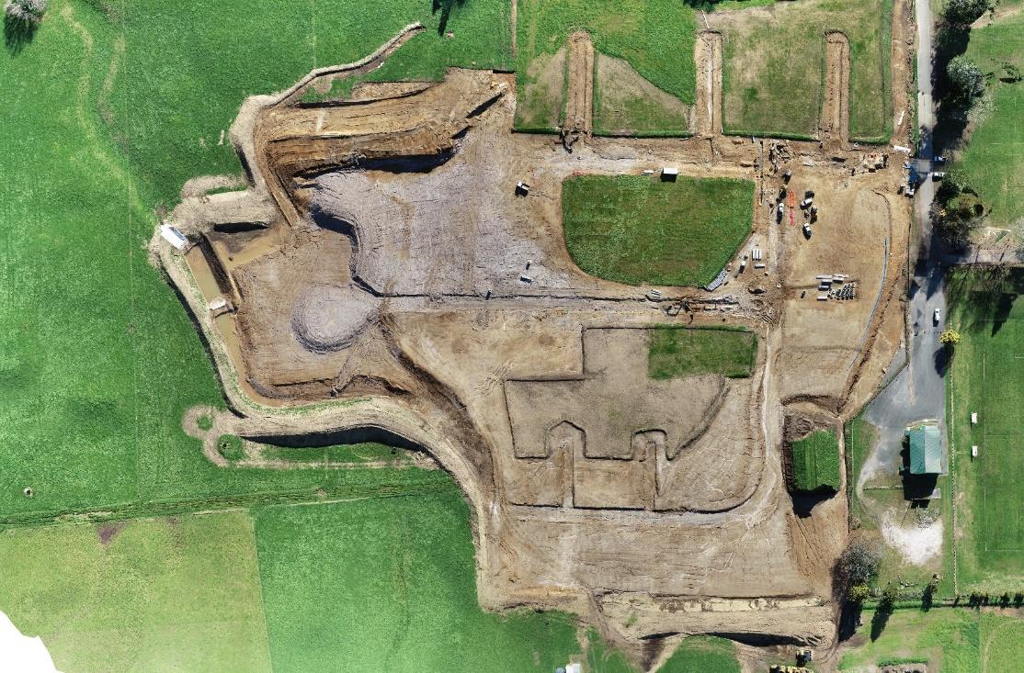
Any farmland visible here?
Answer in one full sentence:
Yes, the picture does contain farmland.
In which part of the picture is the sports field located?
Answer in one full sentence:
The sports field is in the right part of the image.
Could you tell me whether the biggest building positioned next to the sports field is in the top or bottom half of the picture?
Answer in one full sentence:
It is in the bottom half that the biggest building positioned next to the sports field appears.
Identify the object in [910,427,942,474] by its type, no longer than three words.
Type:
building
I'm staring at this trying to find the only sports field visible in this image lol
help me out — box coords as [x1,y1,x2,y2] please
[956,0,1024,589]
